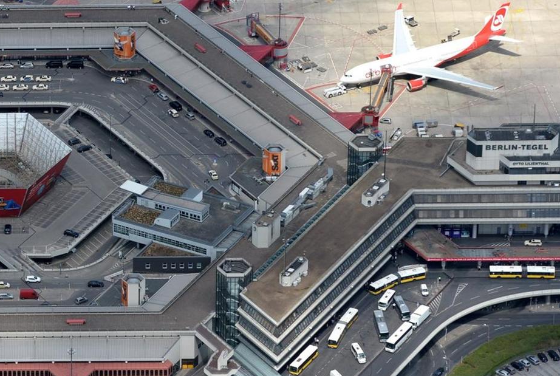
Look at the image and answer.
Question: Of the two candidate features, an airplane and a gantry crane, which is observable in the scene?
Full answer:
Visible in the photo is an airplane.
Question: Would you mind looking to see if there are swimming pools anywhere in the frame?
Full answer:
No, I can see no swimming pool in this picture.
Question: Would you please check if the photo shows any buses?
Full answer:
Yes, a bus can be made out from above.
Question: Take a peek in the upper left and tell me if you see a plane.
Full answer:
No, no plane can be made out in the upper left.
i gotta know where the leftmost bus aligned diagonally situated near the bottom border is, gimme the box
[289,342,319,371]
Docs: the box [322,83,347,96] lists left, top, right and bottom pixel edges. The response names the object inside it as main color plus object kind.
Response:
white vehicle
